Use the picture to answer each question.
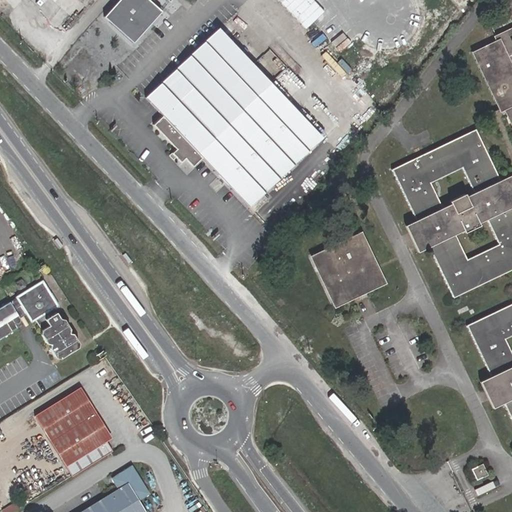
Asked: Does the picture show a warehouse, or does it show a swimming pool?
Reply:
warehouse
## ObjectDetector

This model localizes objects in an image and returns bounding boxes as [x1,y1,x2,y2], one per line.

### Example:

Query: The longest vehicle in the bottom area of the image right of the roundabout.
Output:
[330,392,360,427]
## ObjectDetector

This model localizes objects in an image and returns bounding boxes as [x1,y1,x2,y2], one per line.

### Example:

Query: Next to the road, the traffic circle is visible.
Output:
[164,370,254,462]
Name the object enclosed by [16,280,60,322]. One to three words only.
building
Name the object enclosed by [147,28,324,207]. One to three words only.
warehouse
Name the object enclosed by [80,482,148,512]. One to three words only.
building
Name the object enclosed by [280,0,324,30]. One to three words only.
shed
